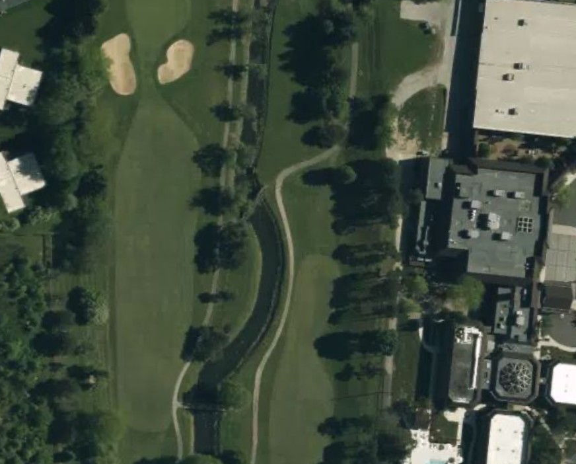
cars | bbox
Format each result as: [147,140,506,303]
[417,150,429,155]
[420,21,431,33]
